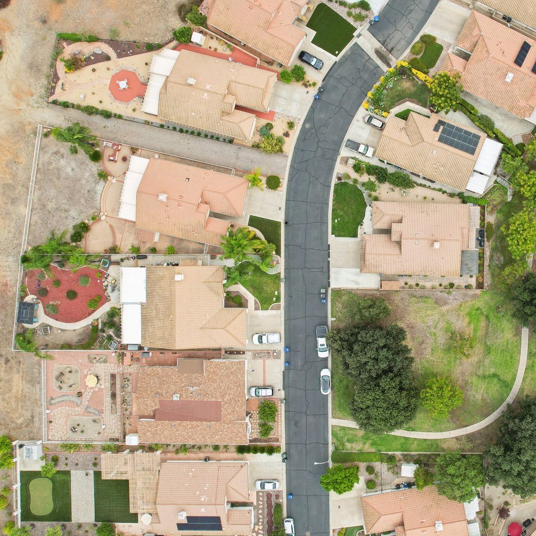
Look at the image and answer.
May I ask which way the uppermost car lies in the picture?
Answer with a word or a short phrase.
diagonally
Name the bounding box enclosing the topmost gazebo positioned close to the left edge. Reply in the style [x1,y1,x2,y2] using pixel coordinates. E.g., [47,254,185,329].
[17,301,47,324]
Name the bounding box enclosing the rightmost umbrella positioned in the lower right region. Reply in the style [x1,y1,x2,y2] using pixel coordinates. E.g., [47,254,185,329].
[508,523,522,536]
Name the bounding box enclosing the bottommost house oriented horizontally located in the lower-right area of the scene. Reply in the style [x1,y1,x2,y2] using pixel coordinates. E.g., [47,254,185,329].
[360,484,482,536]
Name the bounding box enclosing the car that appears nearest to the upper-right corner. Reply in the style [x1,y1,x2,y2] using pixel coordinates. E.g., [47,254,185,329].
[363,114,386,130]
